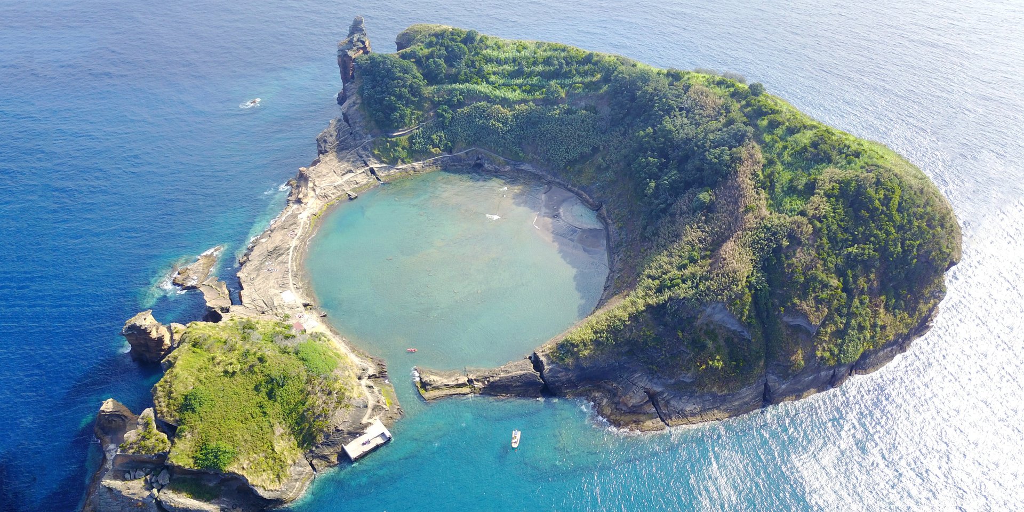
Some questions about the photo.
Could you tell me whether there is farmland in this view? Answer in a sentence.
No, farmland can't be seen anywhere here.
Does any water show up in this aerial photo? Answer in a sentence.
Yes, the picture does contain water.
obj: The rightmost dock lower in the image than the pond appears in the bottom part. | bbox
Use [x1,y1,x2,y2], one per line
[342,419,392,466]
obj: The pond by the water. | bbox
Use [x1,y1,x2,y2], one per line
[305,173,600,382]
